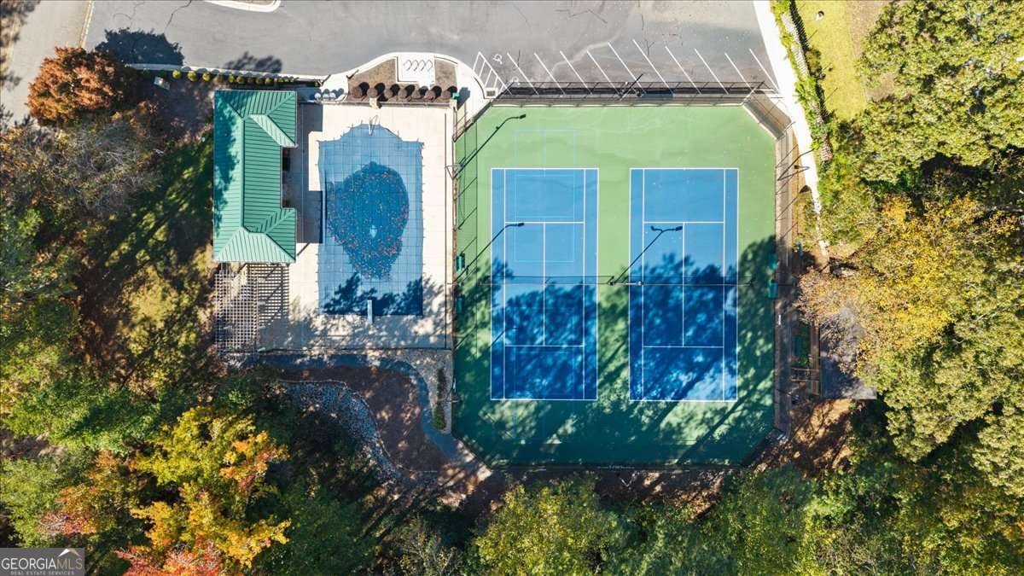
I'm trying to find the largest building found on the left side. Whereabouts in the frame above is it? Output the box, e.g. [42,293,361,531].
[212,90,299,262]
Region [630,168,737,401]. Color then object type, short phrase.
blue tennis court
